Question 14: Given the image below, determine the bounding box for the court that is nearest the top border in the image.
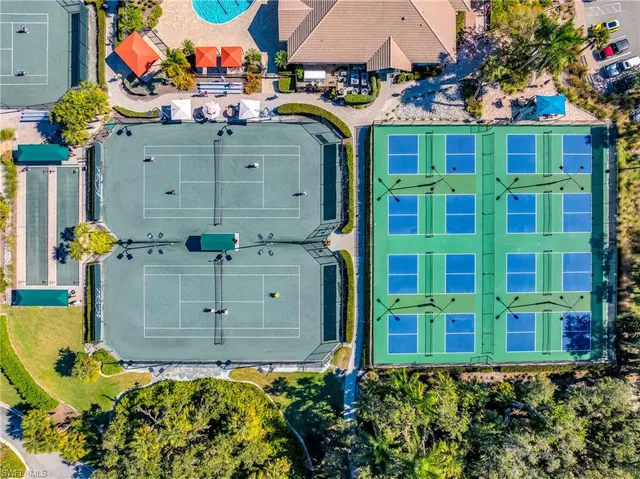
[0,0,88,108]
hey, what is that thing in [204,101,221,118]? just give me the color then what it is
white umbrella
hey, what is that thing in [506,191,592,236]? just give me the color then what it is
blue sports court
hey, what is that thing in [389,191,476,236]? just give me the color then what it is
blue sports court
